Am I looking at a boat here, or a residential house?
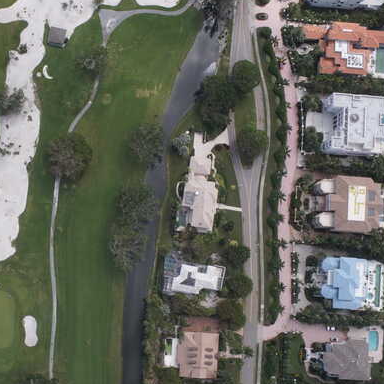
residential house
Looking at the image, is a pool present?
Yes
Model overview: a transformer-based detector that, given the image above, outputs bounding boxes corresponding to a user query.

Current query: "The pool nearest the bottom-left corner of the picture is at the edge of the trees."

[164,338,178,366]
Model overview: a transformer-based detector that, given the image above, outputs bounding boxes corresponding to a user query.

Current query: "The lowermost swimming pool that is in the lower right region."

[348,326,384,363]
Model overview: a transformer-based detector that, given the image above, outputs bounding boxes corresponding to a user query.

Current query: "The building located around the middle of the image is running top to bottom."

[182,156,218,231]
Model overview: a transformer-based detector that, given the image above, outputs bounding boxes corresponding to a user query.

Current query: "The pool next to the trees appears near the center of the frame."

[177,208,192,230]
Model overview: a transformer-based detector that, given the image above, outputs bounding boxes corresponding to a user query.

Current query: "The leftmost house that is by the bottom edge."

[178,332,218,379]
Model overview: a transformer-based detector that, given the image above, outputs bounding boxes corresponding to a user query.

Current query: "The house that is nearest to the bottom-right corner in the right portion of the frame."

[321,340,371,380]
